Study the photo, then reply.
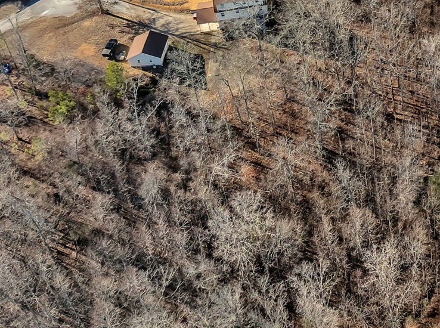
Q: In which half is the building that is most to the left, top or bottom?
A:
top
